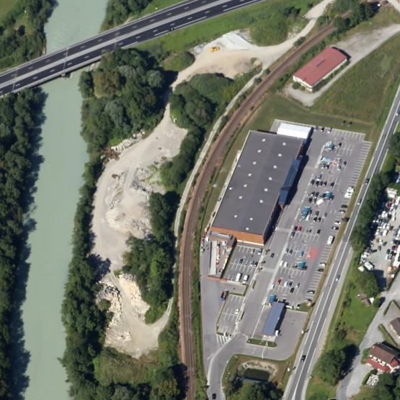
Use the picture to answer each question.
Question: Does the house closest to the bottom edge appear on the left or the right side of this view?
right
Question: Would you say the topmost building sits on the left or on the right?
right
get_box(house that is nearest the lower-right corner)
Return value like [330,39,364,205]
[368,342,400,376]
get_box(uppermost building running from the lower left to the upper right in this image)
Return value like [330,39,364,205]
[294,47,348,89]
